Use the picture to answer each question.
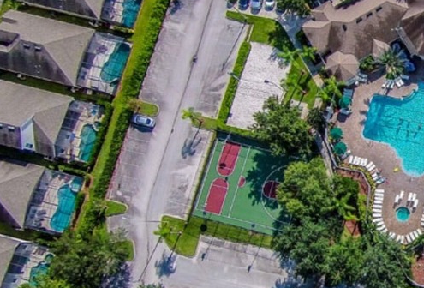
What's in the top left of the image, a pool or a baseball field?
pool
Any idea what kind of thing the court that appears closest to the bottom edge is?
basketball court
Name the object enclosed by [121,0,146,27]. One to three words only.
swimming pool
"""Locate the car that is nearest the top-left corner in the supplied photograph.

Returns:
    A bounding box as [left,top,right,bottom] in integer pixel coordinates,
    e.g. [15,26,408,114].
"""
[133,115,154,128]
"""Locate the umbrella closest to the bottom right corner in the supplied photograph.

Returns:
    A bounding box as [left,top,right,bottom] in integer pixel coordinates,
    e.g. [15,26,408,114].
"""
[334,141,348,155]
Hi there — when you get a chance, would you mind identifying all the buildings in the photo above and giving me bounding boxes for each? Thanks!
[0,80,79,156]
[0,157,51,228]
[0,11,101,87]
[303,0,424,60]
[0,238,27,288]
[27,0,113,21]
